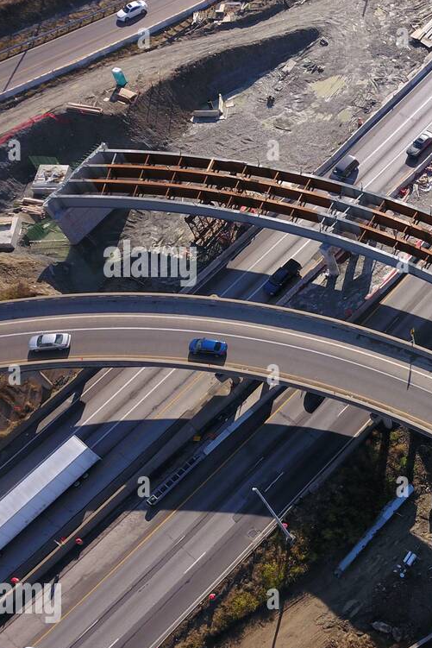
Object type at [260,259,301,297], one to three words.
truck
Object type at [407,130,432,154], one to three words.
car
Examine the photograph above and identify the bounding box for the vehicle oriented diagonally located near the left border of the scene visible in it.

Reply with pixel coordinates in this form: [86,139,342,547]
[0,450,102,568]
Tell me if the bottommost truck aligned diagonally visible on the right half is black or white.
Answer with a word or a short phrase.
black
